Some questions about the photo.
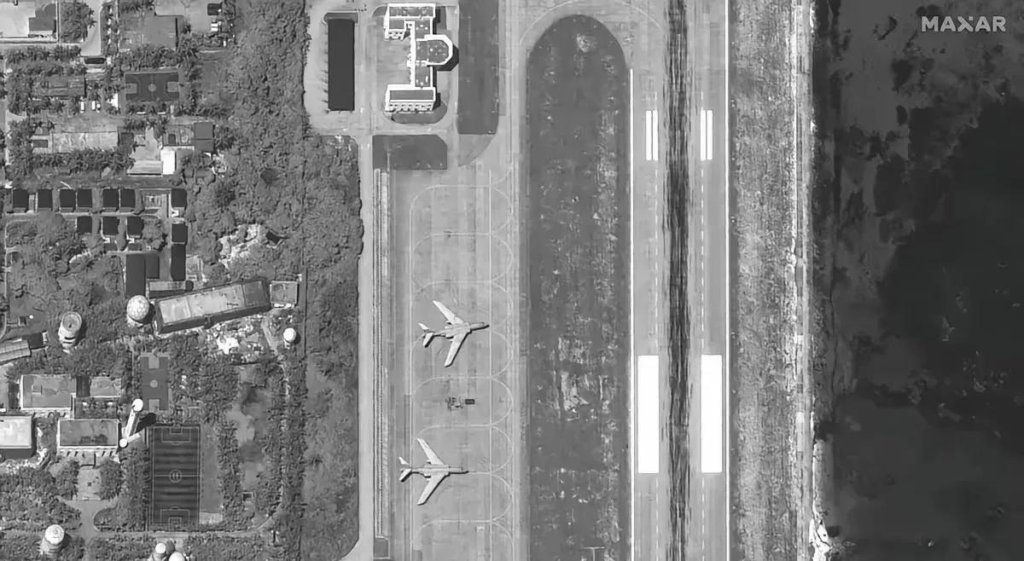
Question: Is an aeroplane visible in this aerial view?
Yes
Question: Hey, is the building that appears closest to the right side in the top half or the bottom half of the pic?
top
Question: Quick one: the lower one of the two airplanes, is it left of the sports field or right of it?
to its right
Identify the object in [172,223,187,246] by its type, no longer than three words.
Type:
house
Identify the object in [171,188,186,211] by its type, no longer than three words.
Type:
house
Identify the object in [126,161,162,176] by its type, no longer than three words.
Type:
building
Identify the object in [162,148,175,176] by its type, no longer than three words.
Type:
building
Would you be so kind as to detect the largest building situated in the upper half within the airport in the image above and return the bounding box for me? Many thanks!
[386,3,453,113]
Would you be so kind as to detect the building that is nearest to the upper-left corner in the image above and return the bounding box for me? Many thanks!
[28,3,55,33]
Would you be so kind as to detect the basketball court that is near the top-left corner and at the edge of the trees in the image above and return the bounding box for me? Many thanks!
[124,72,180,101]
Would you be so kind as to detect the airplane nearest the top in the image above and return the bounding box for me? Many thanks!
[418,302,488,367]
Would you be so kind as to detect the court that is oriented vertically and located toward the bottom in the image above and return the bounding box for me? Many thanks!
[141,354,169,411]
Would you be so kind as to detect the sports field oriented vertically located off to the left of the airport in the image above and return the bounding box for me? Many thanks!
[147,424,199,529]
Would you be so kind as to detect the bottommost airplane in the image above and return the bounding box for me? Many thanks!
[398,438,468,505]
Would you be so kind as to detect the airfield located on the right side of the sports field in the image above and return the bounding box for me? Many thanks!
[305,0,730,561]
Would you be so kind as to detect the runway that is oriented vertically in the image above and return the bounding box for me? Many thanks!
[629,0,730,561]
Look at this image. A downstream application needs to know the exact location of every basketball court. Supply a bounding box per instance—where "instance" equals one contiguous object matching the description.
[141,354,169,411]
[124,72,180,101]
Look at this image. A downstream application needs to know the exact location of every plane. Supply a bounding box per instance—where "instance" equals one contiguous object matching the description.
[398,438,468,505]
[418,302,488,367]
